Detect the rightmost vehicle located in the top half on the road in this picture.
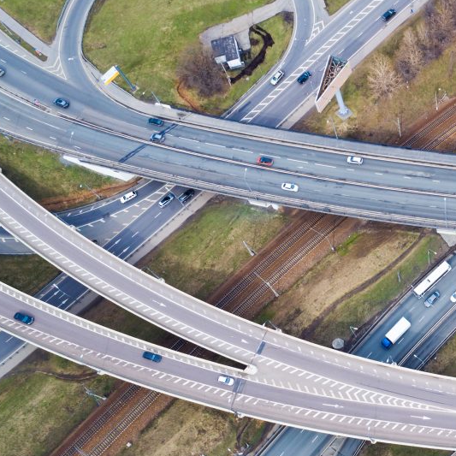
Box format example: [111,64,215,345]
[381,9,397,21]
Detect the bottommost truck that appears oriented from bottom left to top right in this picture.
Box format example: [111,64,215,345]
[380,317,413,351]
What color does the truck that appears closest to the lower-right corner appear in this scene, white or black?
white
